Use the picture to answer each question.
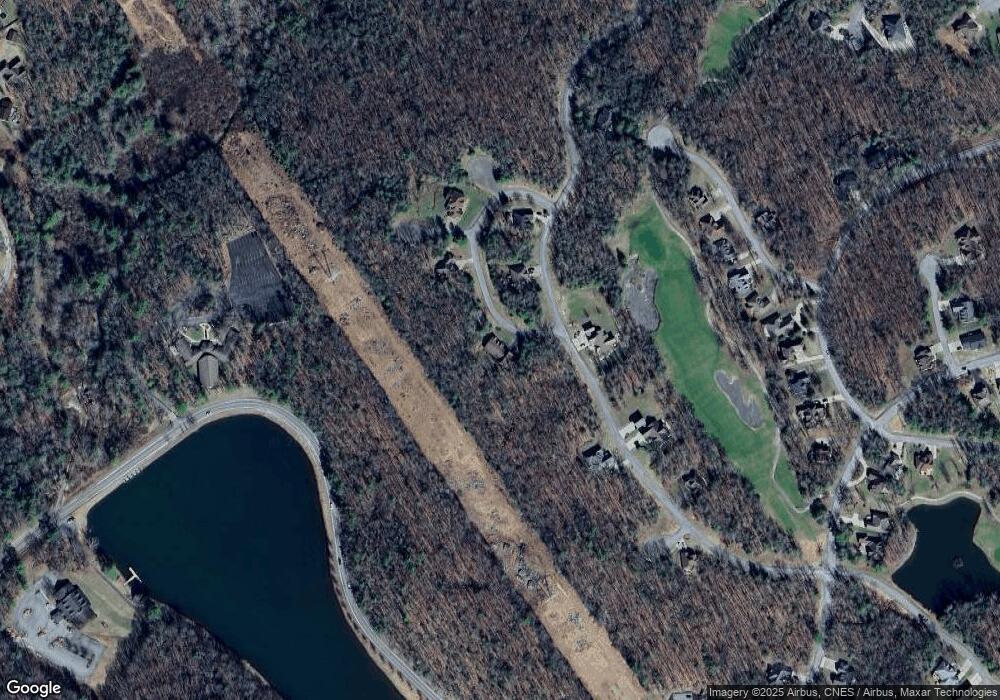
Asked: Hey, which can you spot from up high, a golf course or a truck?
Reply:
golf course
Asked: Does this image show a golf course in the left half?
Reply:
No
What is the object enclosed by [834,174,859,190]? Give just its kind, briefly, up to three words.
house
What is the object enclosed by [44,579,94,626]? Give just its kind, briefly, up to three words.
building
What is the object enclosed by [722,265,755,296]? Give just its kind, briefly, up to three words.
house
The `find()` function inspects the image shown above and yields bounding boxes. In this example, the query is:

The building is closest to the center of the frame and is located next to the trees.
[478,333,510,361]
